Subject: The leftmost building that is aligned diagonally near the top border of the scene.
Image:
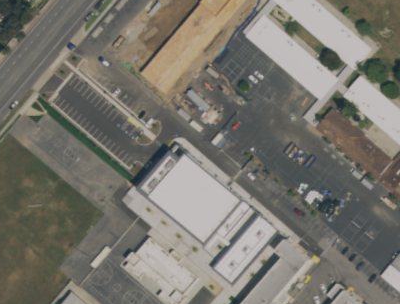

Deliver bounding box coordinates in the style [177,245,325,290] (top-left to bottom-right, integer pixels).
[141,0,246,94]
